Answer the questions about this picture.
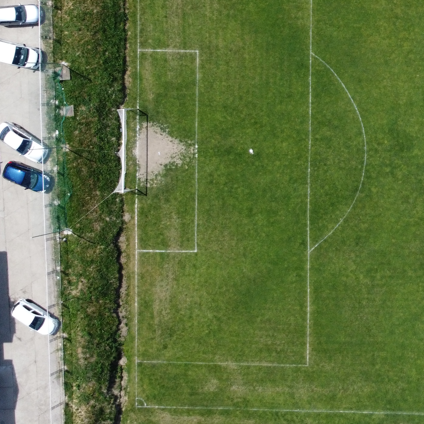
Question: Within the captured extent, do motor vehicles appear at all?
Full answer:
Yes, a motor vehicle is visible in the scene.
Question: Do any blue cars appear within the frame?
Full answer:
Yes, the image includes a blue car.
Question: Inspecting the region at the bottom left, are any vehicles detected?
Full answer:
Yes, you'll find a vehicle at the bottom left.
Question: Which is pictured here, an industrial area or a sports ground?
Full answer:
The area seen from above is a sports ground.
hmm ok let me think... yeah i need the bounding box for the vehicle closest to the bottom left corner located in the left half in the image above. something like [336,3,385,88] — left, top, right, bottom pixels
[12,298,60,333]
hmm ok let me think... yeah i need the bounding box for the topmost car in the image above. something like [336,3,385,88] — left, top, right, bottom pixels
[0,2,44,26]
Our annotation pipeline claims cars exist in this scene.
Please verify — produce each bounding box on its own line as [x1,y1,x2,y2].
[0,39,44,67]
[0,2,44,26]
[0,122,53,162]
[4,161,56,191]
[12,298,60,333]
